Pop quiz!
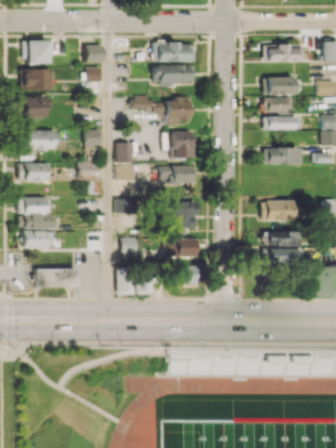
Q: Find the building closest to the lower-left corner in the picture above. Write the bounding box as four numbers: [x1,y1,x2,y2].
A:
[34,268,80,288]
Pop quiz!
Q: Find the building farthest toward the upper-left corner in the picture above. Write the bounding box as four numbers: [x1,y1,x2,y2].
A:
[20,40,54,66]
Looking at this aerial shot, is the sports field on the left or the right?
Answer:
right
